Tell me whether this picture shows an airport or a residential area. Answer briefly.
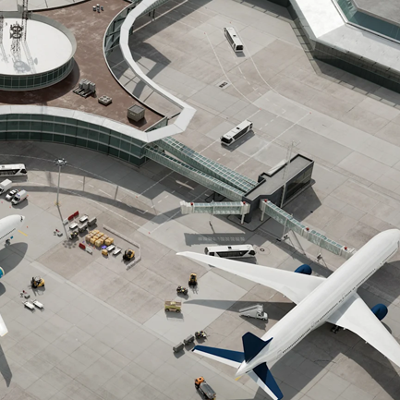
airport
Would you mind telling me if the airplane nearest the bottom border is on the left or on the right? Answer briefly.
right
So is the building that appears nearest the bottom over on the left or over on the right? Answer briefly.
right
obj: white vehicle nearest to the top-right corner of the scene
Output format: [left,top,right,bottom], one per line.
[224,24,242,49]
